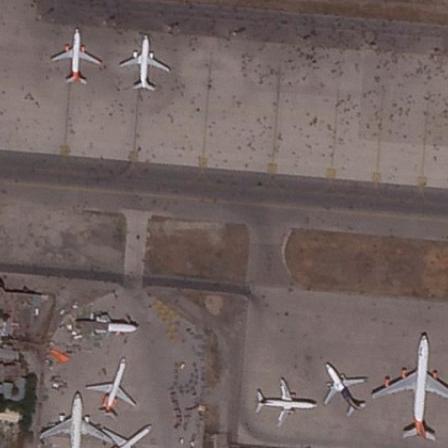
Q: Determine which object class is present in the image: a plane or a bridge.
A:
plane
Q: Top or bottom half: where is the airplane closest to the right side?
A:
bottom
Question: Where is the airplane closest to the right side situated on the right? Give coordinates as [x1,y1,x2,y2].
[373,333,448,439]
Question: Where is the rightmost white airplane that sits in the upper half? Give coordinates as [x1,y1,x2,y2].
[120,36,169,90]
